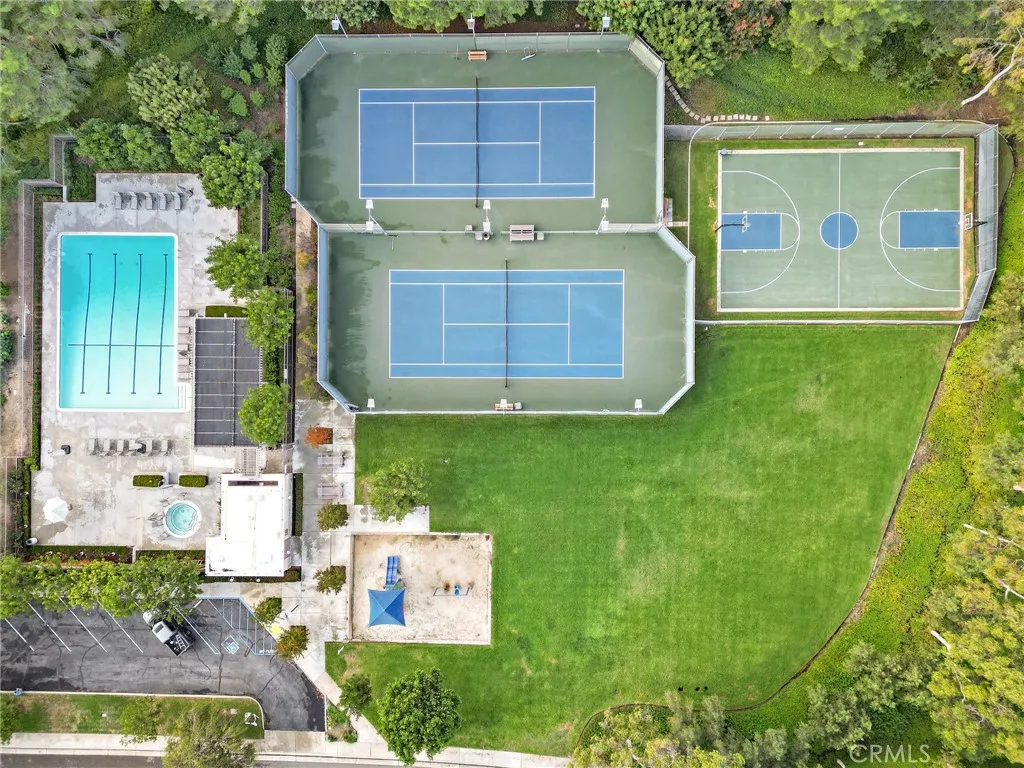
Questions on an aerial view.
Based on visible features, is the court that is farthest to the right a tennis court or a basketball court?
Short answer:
basketball court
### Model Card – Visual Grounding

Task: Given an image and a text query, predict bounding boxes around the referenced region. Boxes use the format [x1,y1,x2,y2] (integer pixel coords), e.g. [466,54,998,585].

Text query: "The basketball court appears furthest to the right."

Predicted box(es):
[717,148,965,312]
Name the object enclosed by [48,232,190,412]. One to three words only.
swimming pool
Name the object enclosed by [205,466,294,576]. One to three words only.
building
